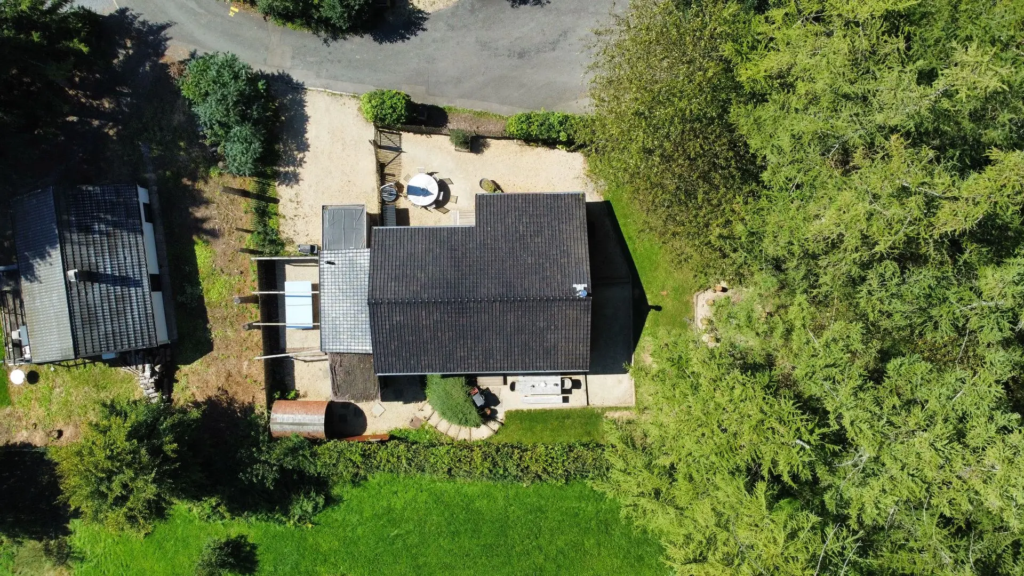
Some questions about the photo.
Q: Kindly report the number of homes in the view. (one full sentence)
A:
I count 2 homes.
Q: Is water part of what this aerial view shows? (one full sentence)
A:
No, there is no water in the image.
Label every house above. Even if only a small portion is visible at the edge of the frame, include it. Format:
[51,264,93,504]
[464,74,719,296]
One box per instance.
[9,182,172,364]
[366,191,593,374]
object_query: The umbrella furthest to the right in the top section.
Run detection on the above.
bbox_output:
[380,181,409,201]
